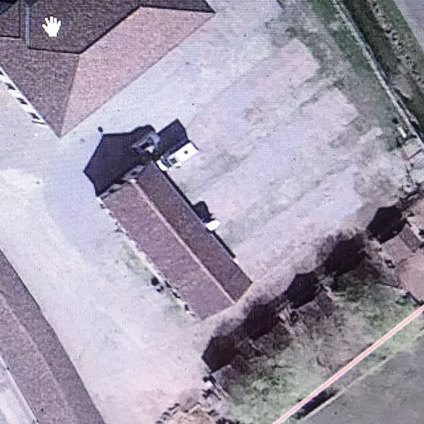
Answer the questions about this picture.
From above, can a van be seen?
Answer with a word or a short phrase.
Yes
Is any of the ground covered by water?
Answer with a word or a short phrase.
No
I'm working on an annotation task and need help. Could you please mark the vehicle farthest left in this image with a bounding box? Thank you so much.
[132,132,158,156]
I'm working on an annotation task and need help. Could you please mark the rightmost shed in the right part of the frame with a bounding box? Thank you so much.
[374,227,424,263]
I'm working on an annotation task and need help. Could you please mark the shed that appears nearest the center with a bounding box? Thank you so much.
[94,161,253,320]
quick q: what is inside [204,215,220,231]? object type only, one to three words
vehicle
